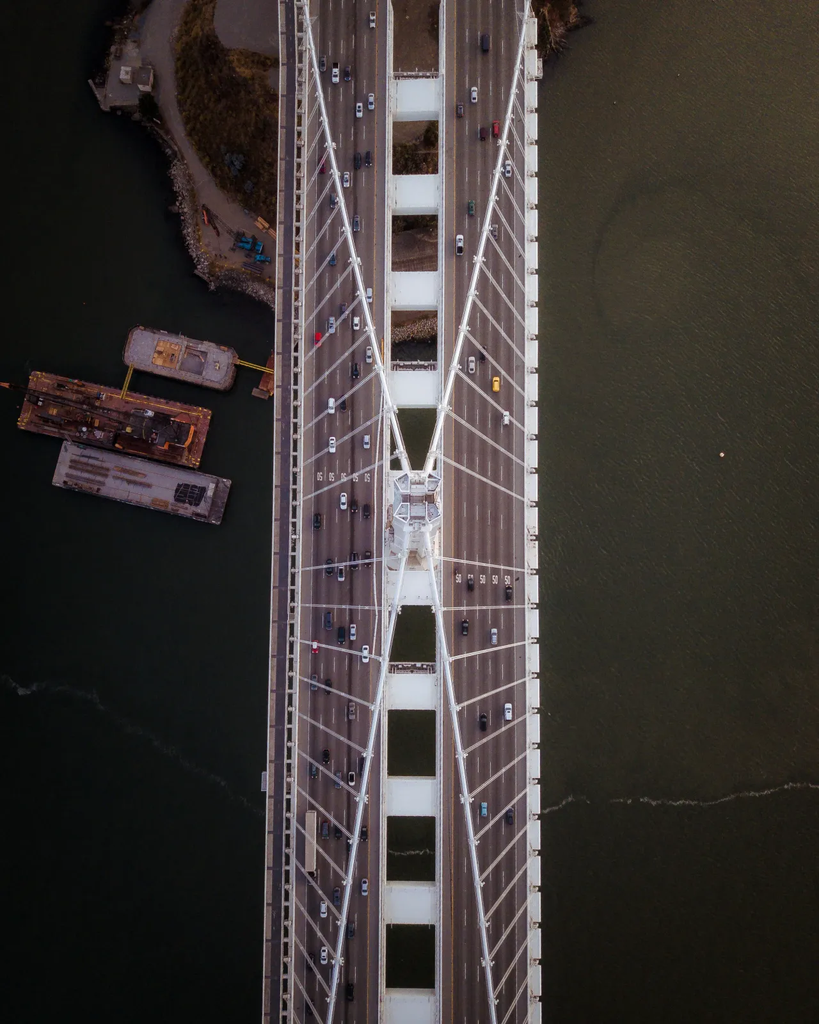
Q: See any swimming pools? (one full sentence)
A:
No, no swimming pool is visible in the view.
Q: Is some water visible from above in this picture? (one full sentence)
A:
Yes, some water is visible.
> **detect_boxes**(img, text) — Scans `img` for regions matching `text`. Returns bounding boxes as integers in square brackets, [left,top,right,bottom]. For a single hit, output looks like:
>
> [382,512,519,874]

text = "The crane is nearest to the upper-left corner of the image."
[202,204,255,254]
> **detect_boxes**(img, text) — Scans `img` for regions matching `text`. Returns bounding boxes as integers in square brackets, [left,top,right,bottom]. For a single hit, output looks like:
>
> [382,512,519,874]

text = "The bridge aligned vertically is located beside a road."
[262,0,541,1024]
